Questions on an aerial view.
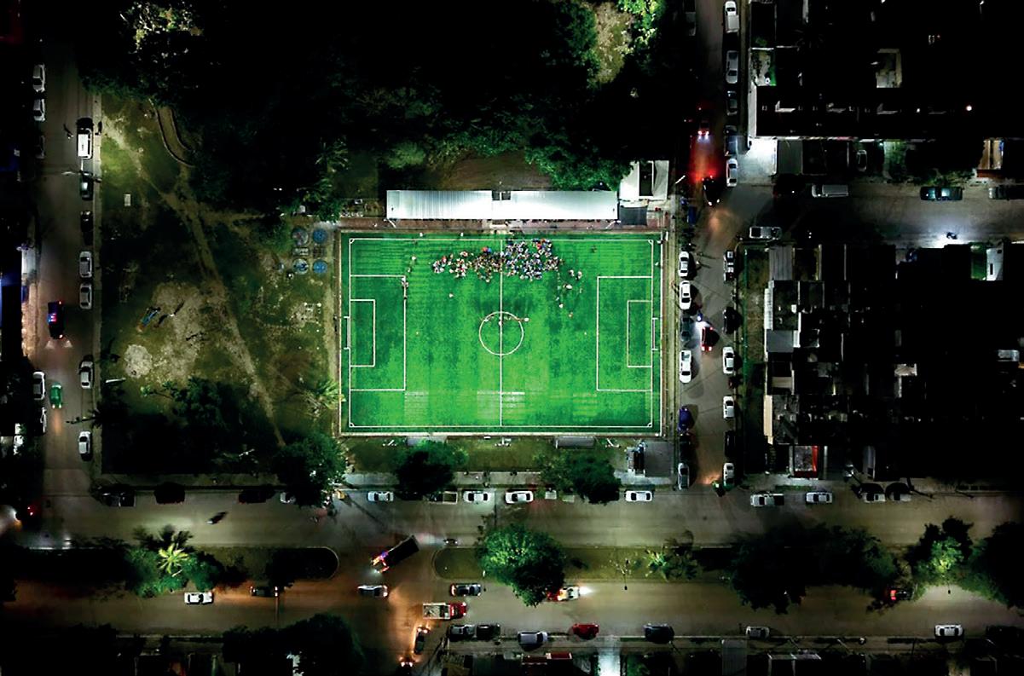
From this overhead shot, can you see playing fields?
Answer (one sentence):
Yes, a playing field appears in the view.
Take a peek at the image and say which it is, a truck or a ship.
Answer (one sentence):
There is a truck in the scene.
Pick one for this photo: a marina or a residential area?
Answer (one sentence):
This image shows a residential area.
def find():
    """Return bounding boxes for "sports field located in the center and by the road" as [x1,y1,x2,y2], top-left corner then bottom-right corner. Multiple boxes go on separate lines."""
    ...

[336,228,666,438]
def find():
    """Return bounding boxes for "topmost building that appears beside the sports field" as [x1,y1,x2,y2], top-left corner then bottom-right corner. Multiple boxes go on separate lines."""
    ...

[620,159,668,204]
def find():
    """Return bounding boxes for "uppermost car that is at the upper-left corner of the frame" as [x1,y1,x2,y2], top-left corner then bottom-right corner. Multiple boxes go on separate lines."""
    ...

[31,64,48,92]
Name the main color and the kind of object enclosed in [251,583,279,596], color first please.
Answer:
black vehicle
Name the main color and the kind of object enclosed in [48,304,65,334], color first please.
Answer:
black vehicle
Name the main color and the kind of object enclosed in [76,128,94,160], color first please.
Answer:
white vehicle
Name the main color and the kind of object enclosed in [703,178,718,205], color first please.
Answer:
black car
